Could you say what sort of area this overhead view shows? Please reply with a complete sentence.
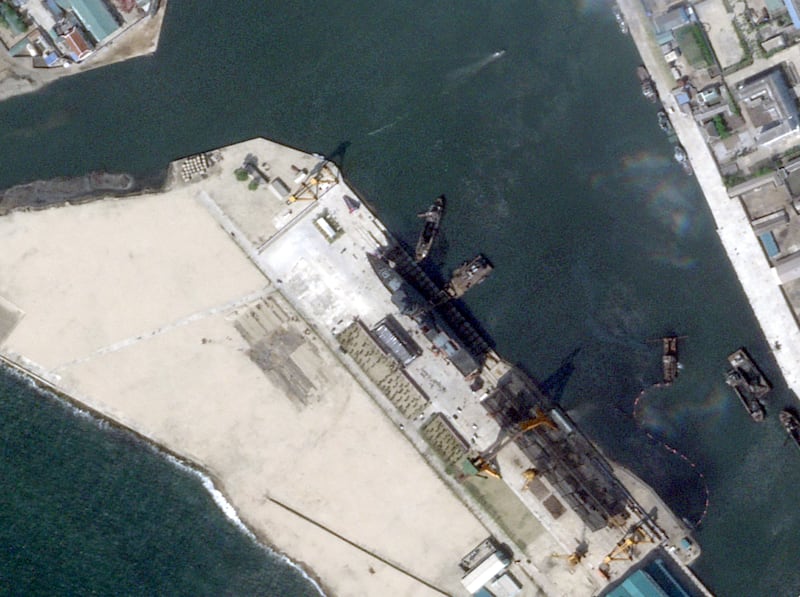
This looks like a port.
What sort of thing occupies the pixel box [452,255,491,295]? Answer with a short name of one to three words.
ship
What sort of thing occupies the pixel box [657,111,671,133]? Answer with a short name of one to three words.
boat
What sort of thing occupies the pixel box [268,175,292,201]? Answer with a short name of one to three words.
building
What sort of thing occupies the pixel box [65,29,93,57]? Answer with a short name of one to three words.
house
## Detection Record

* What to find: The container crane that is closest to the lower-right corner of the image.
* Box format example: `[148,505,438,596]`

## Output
[603,526,655,563]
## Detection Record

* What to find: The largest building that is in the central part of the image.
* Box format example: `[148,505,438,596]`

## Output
[377,324,420,364]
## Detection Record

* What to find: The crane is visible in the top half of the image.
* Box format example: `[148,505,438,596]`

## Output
[286,163,339,206]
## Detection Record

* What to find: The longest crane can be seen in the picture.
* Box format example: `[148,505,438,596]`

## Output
[478,410,559,481]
